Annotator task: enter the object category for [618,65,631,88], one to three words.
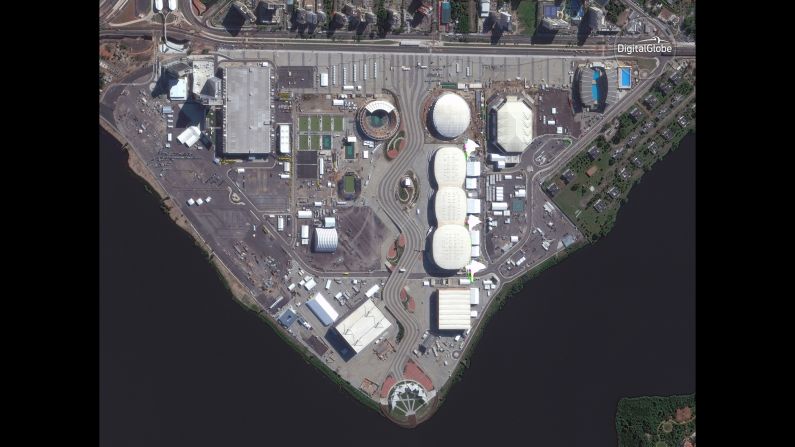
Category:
swimming pool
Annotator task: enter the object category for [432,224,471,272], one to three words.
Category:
stadium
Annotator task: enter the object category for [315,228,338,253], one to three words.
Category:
building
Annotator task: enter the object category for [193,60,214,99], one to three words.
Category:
building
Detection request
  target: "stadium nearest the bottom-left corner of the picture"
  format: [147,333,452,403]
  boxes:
[335,299,391,355]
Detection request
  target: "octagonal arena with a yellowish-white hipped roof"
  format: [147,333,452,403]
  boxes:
[492,92,536,154]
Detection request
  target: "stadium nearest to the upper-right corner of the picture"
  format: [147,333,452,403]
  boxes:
[575,63,617,111]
